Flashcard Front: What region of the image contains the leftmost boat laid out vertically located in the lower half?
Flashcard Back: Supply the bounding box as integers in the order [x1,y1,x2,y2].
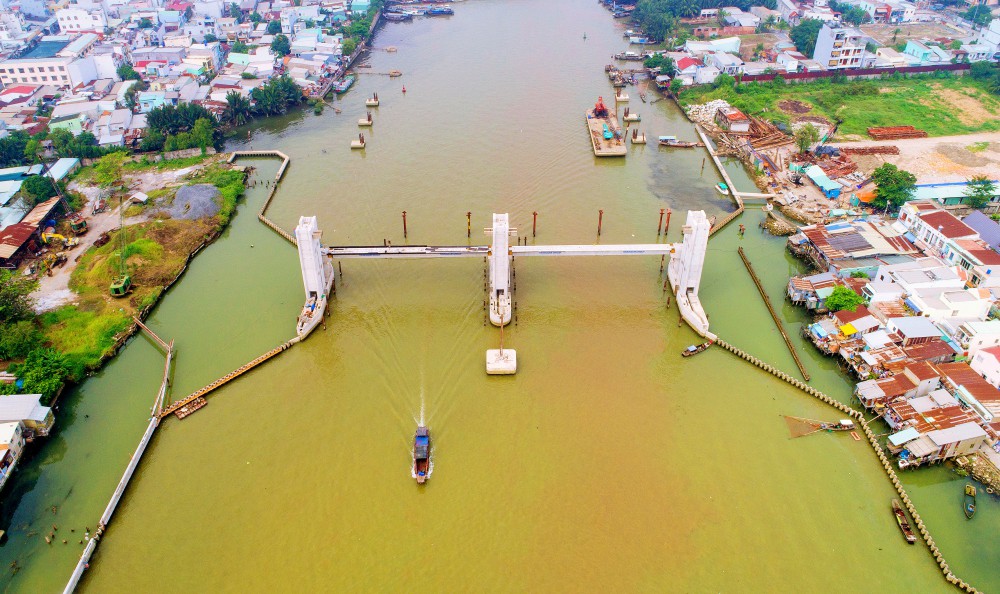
[411,423,432,484]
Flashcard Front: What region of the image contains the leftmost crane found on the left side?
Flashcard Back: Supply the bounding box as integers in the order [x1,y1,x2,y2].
[38,155,90,232]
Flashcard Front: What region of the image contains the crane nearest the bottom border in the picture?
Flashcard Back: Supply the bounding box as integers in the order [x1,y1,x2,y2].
[99,196,137,296]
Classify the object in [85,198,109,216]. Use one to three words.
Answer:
vehicle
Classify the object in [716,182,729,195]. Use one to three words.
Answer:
boat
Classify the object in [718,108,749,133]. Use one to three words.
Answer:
shed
